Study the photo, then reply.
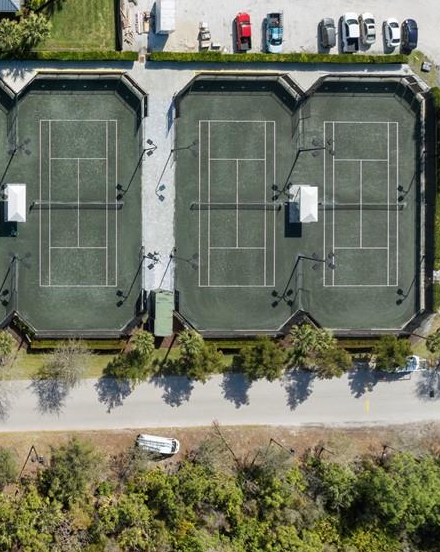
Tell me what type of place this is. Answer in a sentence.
The picture captures a sports ground.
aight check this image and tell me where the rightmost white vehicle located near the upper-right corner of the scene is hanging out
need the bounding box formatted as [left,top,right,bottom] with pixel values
[382,17,402,50]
